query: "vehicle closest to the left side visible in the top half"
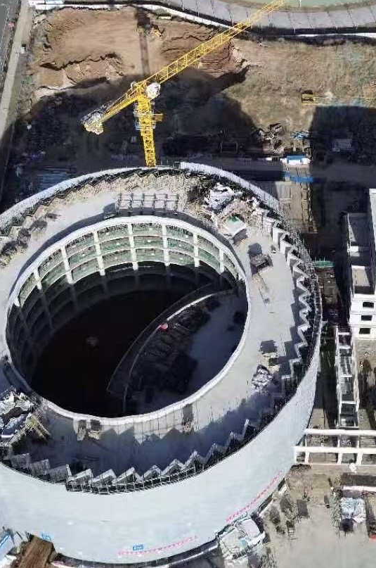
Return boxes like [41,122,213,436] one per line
[141,20,164,35]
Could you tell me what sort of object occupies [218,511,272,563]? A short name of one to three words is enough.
shed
